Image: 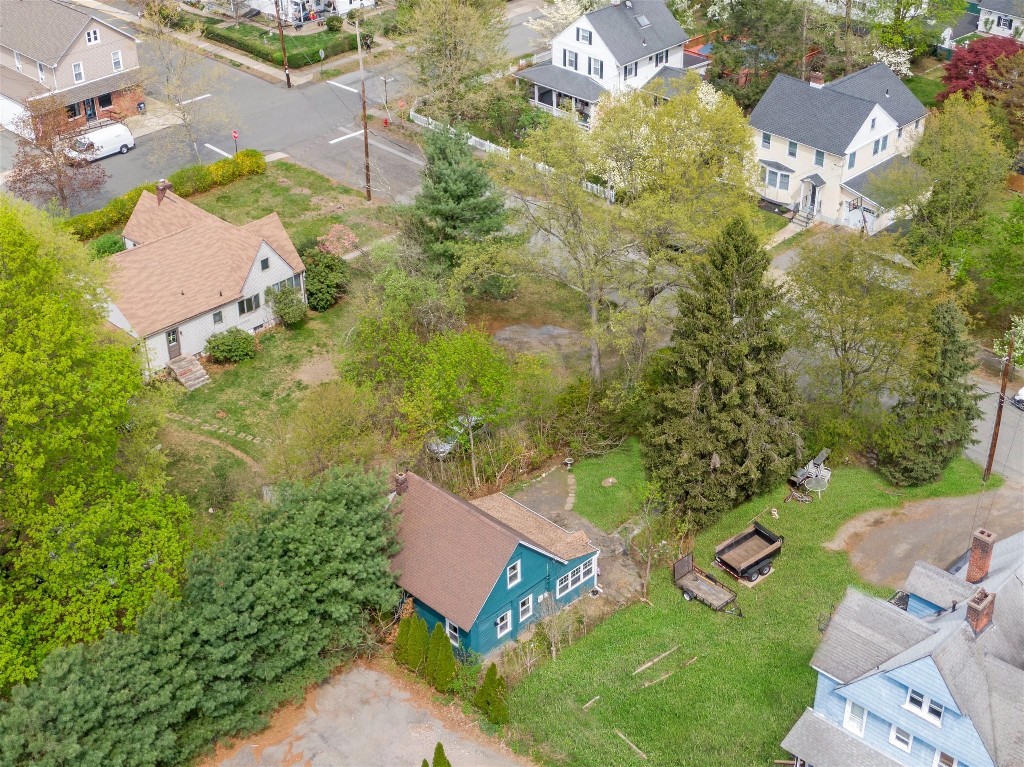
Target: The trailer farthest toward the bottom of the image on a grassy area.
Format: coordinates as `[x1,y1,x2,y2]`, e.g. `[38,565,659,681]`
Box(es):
[673,553,749,618]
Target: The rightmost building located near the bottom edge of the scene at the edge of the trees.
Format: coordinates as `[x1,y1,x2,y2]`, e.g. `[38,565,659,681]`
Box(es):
[746,508,1024,767]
